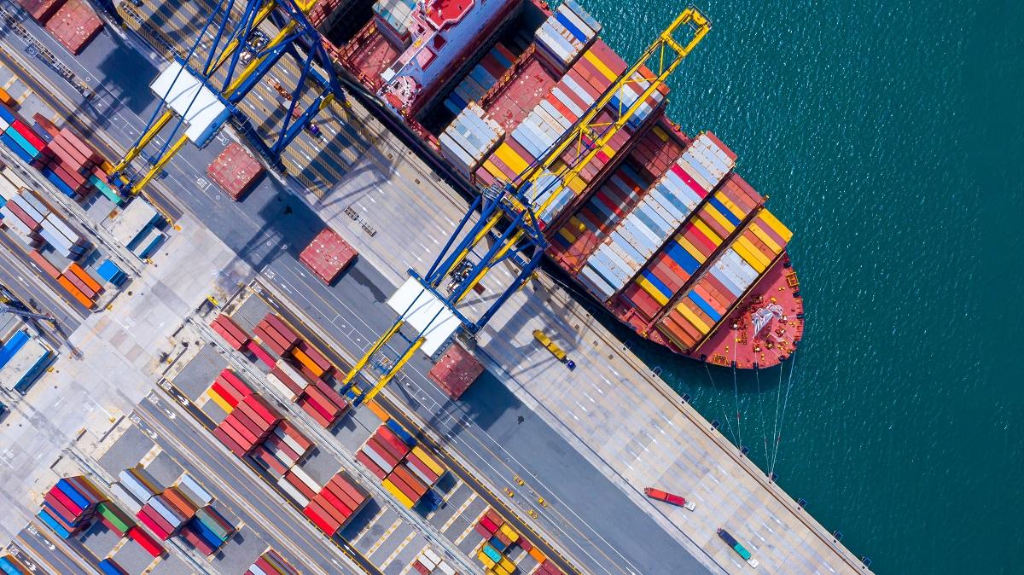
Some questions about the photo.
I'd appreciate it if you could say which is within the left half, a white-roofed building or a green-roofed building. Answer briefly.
white-roofed building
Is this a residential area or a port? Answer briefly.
port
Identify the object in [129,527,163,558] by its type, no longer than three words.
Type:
shipping container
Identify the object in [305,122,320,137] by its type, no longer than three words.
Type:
vehicle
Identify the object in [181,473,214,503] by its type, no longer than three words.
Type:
shipping container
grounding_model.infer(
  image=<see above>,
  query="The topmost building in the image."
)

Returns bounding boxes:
[109,197,172,266]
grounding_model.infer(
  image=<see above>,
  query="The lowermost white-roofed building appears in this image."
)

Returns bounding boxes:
[0,337,59,393]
